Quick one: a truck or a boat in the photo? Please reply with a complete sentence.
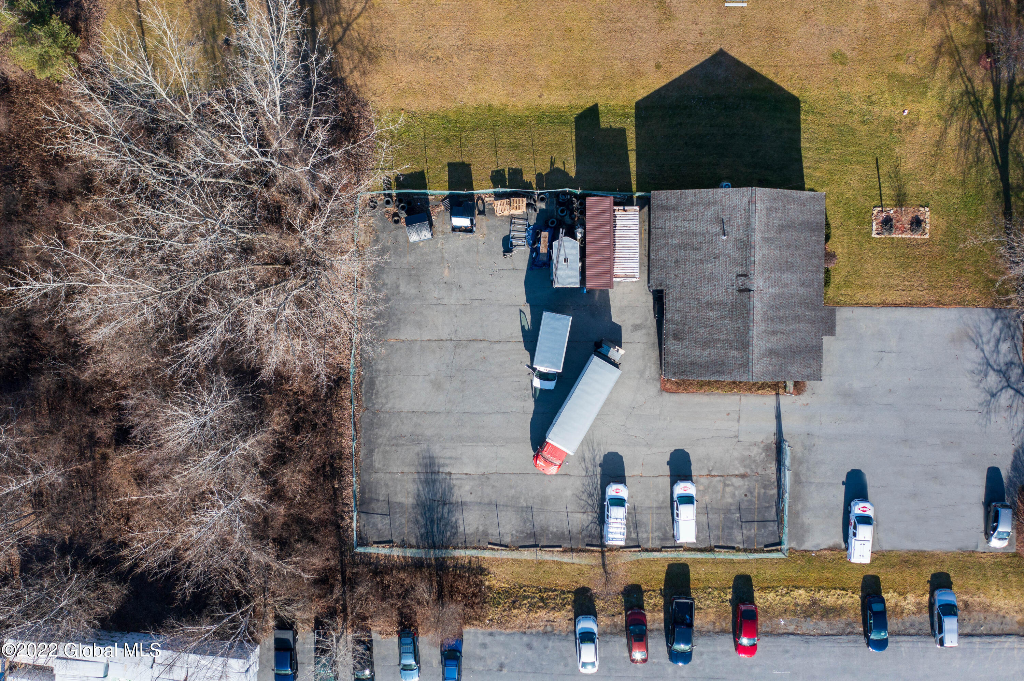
This aerial view contains a truck.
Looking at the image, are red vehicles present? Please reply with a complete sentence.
Yes, you can see a red vehicle in this photo.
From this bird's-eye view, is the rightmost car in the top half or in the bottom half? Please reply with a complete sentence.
You can find the rightmost car in the bottom half.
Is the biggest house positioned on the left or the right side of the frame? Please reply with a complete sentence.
The biggest house sits on the right side.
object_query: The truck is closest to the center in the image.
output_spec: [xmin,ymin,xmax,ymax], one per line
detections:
[525,311,572,393]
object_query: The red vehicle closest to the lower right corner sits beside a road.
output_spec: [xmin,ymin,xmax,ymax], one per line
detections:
[733,600,761,657]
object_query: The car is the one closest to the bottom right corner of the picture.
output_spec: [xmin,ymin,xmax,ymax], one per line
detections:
[927,586,961,649]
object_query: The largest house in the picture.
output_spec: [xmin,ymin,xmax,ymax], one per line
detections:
[648,186,835,382]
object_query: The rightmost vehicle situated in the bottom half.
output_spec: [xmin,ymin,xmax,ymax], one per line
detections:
[982,499,1015,549]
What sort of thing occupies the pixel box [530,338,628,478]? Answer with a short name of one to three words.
truck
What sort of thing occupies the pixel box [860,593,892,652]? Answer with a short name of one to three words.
car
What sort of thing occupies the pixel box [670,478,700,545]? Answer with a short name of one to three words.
truck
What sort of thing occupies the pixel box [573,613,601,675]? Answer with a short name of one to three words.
car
